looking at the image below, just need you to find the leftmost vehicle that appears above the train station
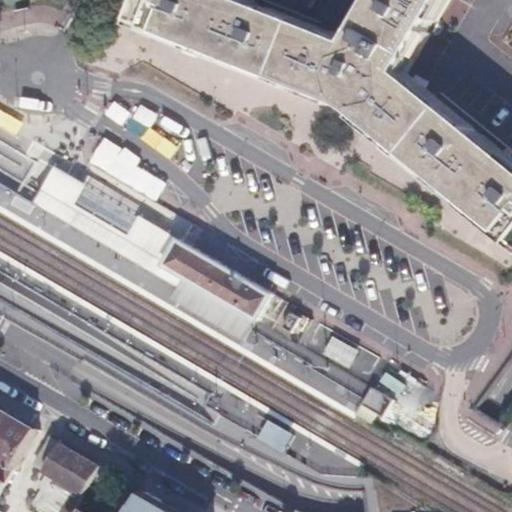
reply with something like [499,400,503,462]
[20,98,52,112]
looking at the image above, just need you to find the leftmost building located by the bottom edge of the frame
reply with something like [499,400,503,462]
[0,405,38,490]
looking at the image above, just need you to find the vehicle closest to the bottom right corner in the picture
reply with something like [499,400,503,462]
[404,364,426,382]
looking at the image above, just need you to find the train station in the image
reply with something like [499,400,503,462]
[0,165,364,475]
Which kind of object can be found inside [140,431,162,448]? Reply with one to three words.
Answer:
car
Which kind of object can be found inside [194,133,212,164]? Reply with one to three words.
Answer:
vehicle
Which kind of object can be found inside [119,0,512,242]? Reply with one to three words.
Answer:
building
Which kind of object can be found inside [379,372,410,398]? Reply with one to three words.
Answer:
shed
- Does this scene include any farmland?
No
